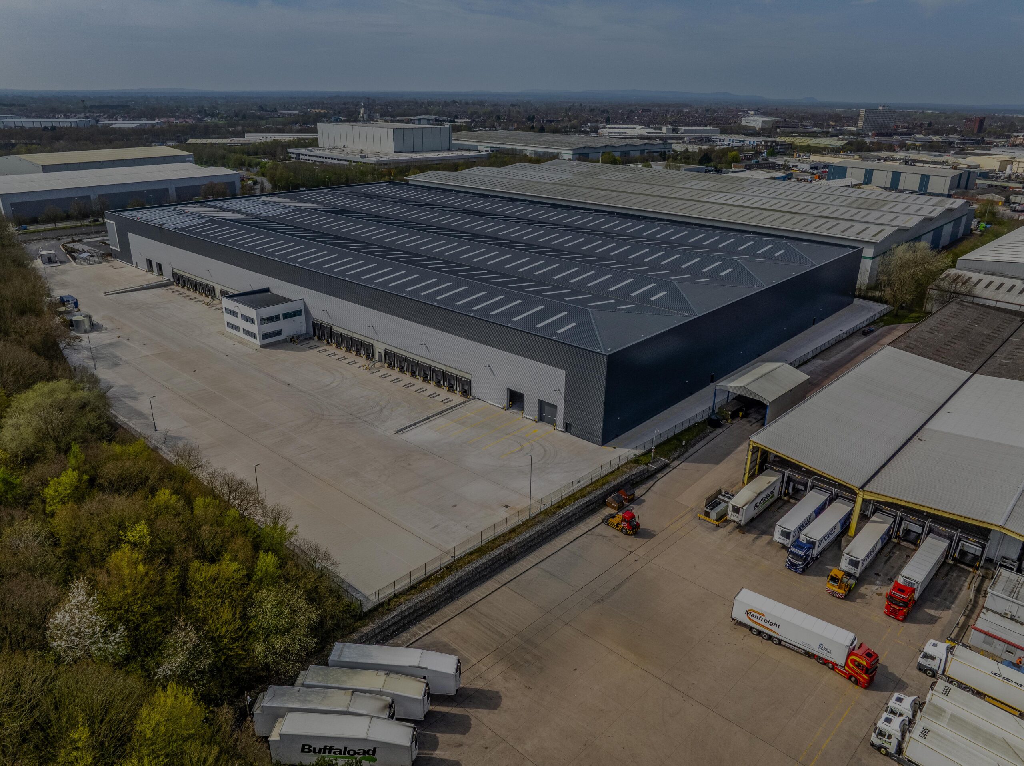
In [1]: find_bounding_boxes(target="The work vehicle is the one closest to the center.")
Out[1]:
[601,510,636,534]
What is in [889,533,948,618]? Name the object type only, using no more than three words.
truck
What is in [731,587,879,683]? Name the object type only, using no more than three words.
truck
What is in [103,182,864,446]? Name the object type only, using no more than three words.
warehouse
